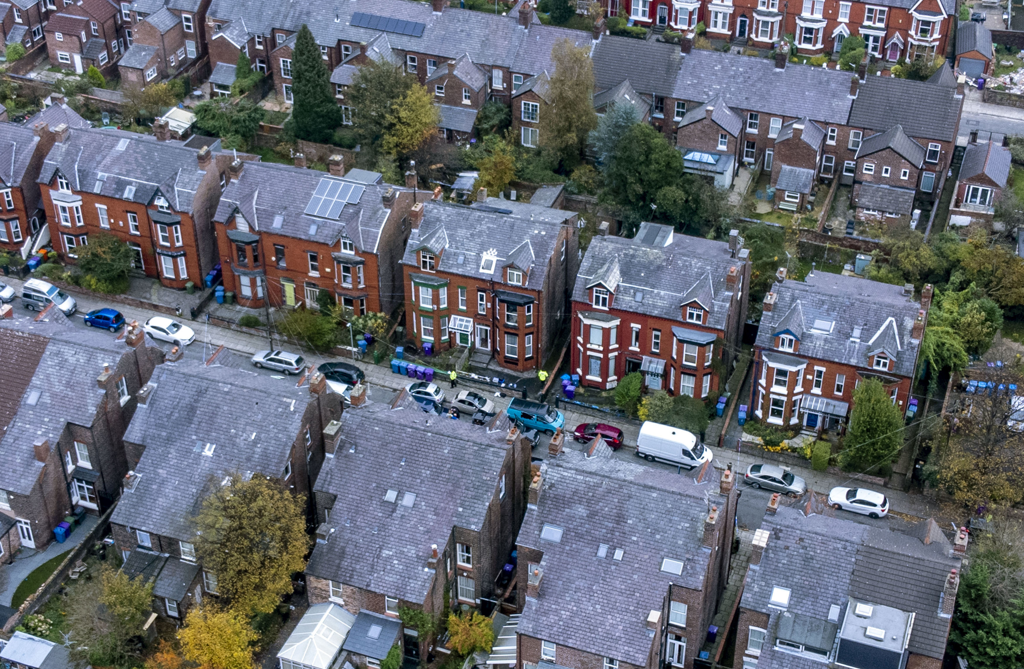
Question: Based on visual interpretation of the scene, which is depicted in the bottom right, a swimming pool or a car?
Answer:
car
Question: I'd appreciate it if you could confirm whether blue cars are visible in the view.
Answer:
Yes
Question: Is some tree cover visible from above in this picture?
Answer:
Yes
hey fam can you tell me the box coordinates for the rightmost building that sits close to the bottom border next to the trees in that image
[730,488,968,669]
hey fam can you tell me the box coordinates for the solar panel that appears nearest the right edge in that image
[461,200,523,213]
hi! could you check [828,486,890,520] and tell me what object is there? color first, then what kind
white car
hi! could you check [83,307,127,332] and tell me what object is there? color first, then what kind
blue car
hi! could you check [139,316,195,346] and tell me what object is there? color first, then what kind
white car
